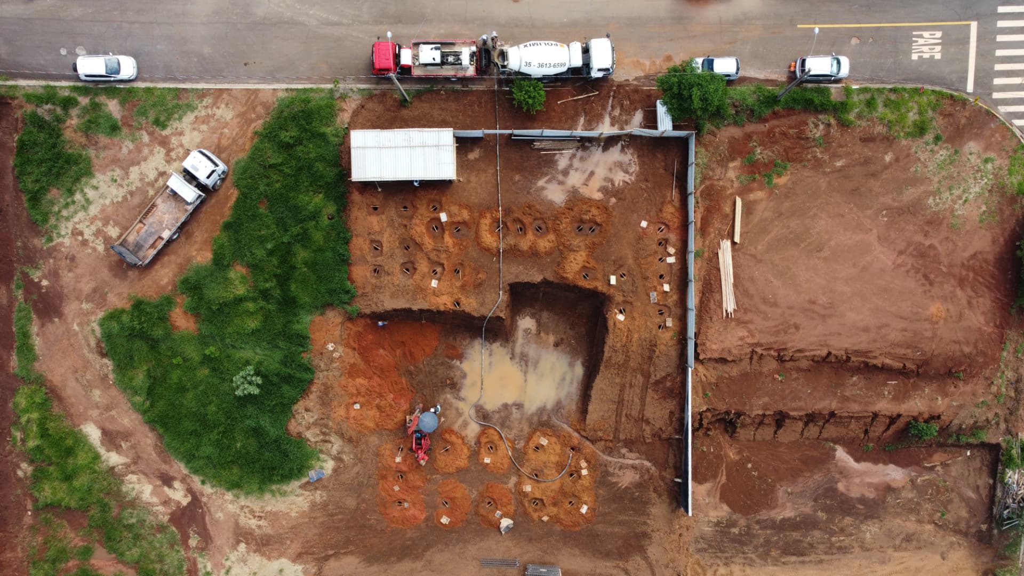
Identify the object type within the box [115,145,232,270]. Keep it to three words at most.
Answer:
truck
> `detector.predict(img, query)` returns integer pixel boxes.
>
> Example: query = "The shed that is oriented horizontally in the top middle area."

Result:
[351,128,469,186]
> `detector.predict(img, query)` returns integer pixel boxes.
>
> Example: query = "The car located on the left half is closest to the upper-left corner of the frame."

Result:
[74,52,141,82]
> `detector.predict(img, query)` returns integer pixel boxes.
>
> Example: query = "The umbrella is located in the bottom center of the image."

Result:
[419,412,438,431]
